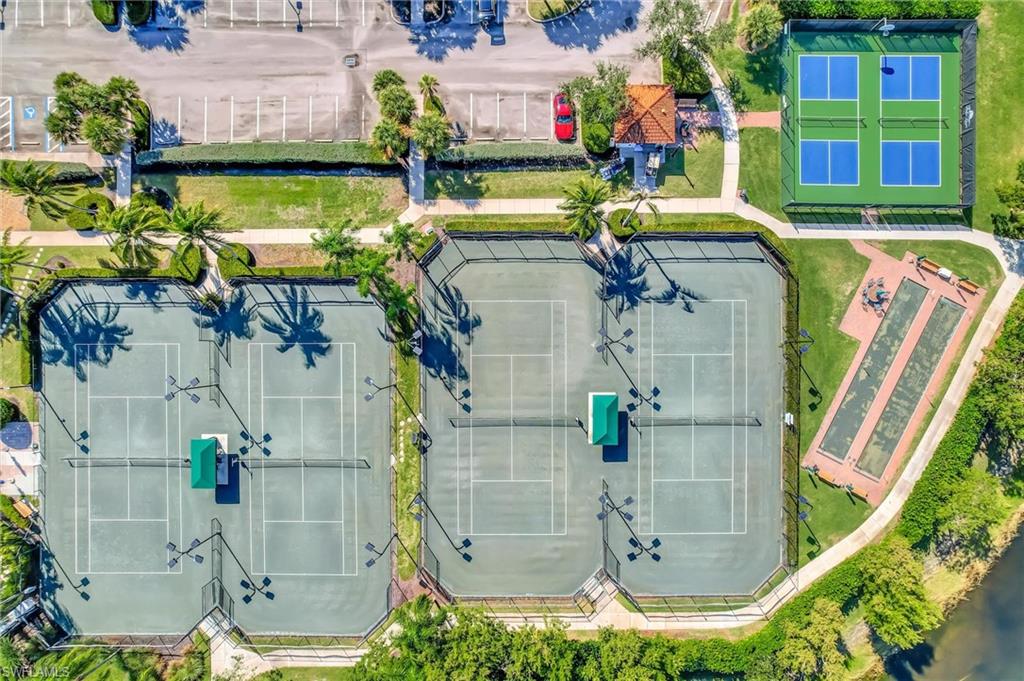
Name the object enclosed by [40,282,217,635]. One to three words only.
tennis court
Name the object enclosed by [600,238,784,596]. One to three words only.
tennis court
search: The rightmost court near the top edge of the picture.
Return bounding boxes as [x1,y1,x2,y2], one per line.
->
[870,33,961,210]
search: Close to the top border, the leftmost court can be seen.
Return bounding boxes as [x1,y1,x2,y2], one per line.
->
[781,33,870,210]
